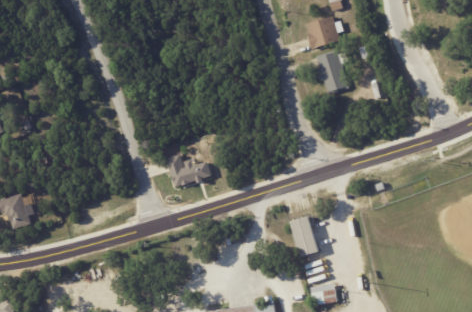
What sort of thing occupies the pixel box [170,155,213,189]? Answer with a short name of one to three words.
house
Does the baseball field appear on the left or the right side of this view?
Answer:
right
